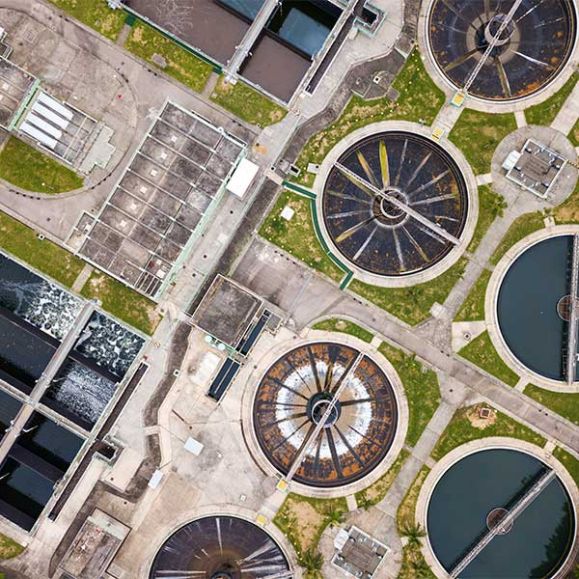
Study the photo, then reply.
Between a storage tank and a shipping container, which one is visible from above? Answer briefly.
storage tank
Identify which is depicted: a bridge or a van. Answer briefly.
bridge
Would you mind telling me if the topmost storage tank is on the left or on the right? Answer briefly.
right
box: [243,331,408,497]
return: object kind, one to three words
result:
storage tank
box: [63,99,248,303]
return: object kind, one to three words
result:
building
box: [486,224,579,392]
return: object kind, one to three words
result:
storage tank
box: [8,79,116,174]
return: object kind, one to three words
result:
house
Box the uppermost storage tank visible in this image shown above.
[418,0,579,113]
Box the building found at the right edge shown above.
[505,140,566,199]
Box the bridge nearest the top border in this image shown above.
[460,0,524,92]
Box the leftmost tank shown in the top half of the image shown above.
[314,121,479,286]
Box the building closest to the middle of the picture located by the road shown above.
[192,275,261,344]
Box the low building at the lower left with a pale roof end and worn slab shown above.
[59,504,134,579]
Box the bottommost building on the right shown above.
[331,523,391,579]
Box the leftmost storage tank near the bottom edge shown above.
[137,505,303,579]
